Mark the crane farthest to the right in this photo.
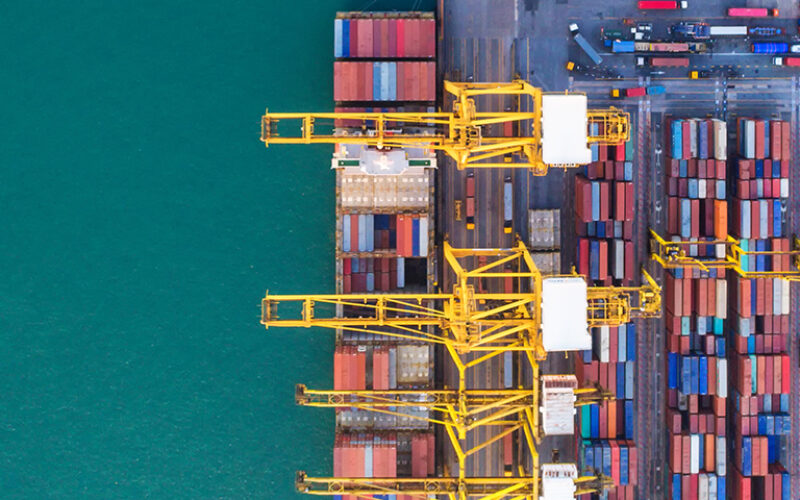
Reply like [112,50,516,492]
[725,234,800,277]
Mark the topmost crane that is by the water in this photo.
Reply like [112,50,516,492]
[262,73,627,181]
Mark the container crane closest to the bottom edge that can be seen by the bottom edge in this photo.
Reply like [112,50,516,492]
[296,399,616,500]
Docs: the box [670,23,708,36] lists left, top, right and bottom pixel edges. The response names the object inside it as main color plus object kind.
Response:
blue vehicle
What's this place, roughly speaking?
port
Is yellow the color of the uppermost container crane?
Yes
